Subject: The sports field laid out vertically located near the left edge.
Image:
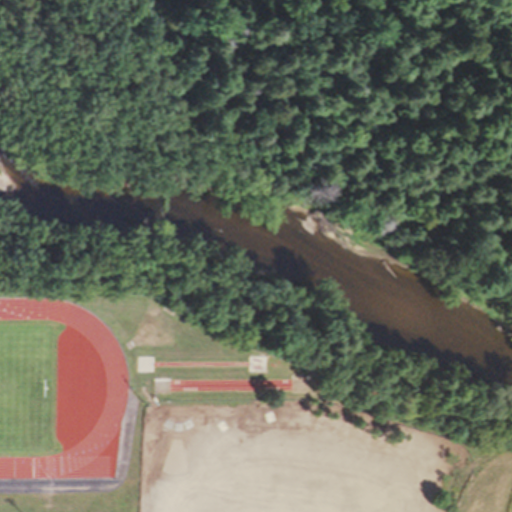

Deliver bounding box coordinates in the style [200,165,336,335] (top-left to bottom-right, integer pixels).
[0,320,66,457]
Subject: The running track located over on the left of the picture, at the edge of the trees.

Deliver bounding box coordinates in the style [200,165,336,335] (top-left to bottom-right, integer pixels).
[0,298,129,480]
